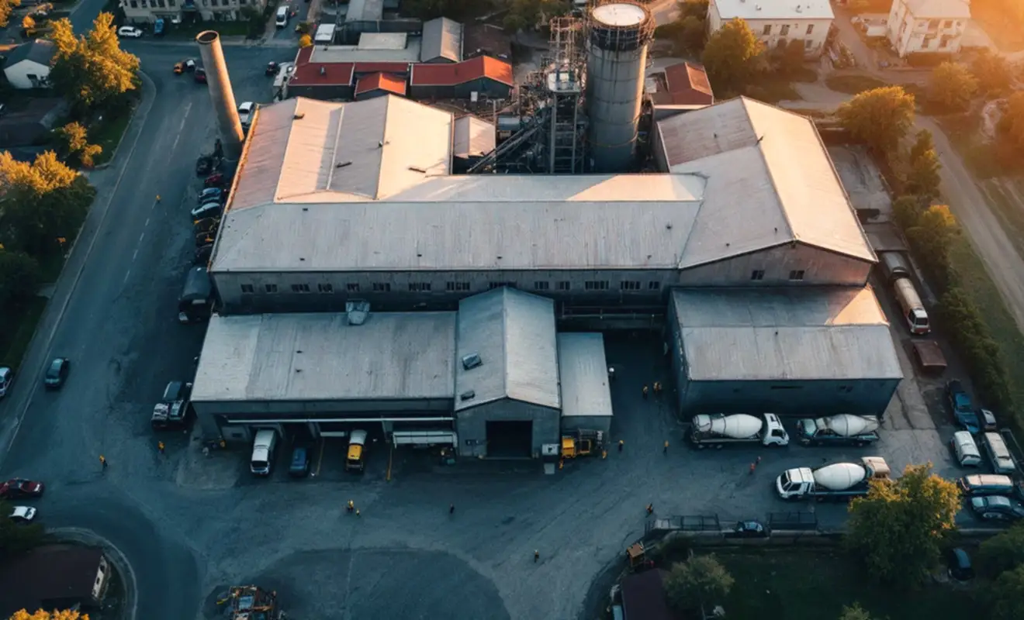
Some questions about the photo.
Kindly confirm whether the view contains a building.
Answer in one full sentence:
Yes, the photo shows a building.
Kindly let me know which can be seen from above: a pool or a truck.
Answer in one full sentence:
It is a truck that can be seen here.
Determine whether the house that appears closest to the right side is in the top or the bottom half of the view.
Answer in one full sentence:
The house that appears closest to the right side sits in the top half of the picture.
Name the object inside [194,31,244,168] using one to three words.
chimney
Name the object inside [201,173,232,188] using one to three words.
car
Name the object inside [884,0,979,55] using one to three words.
house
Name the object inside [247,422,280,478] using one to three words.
van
